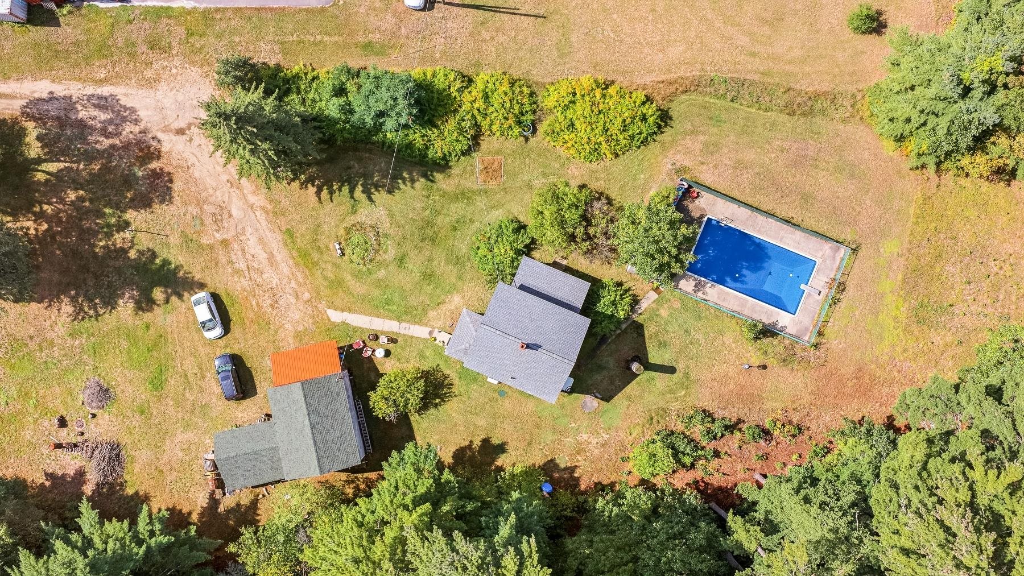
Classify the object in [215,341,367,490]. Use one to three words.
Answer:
barn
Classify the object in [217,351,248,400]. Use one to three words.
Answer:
car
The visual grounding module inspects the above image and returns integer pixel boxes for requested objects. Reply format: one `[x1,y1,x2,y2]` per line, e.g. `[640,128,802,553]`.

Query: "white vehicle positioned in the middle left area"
[192,292,225,341]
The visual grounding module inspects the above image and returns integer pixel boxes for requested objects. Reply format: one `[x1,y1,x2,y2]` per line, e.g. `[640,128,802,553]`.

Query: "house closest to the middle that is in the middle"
[444,255,591,401]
